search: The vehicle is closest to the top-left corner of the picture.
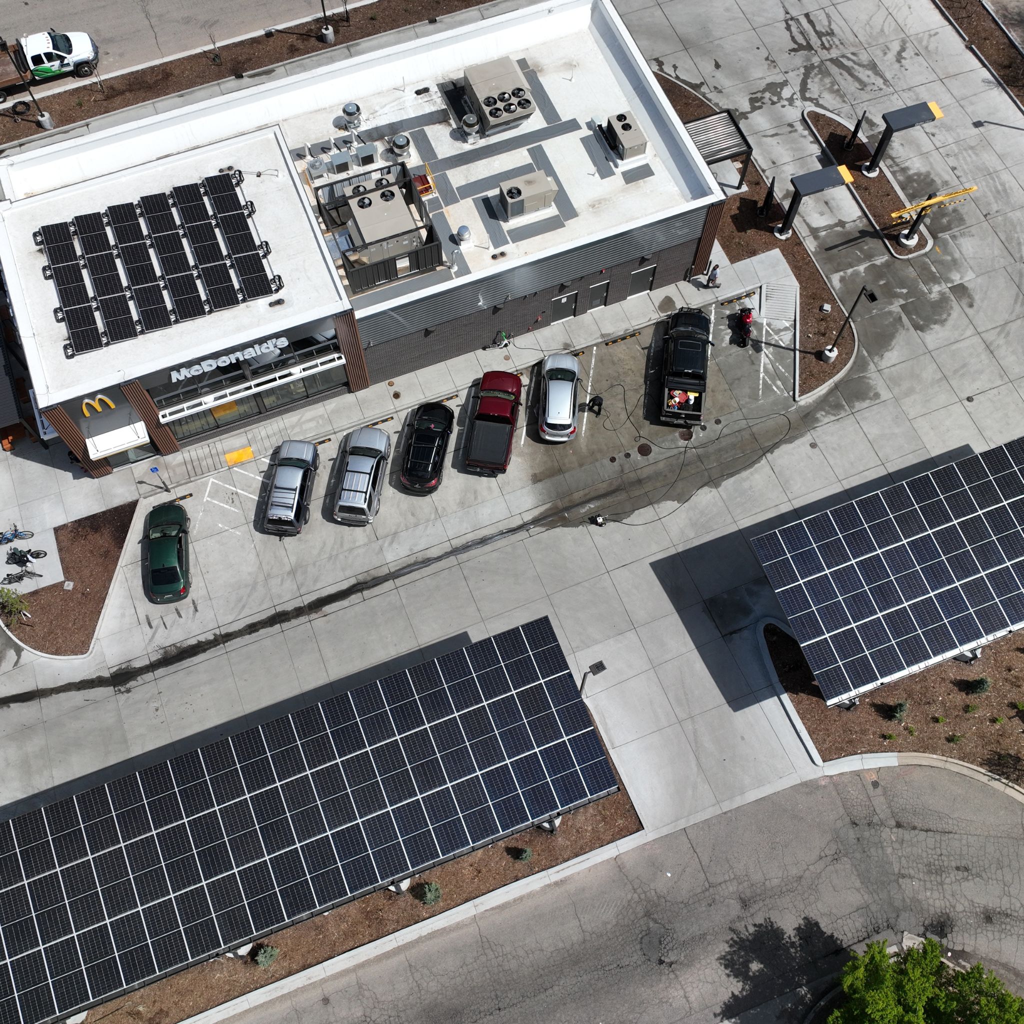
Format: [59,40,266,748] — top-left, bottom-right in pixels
[0,28,101,90]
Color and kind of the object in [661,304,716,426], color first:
black truck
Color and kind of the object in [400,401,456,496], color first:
black car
